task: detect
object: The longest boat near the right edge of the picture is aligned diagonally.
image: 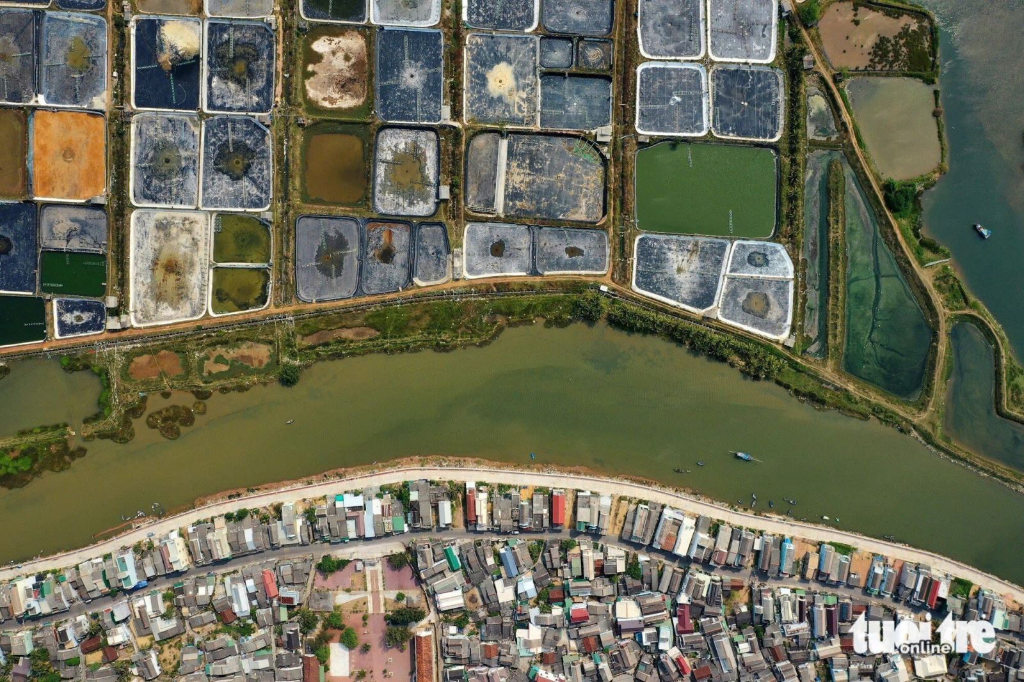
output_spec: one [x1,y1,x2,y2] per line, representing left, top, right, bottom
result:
[975,224,991,238]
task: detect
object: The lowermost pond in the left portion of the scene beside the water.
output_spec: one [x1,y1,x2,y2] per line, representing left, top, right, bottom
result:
[0,358,100,439]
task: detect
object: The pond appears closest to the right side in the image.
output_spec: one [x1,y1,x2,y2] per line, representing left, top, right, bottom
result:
[942,324,1024,474]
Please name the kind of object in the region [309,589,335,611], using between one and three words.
house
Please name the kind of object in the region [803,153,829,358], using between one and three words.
pond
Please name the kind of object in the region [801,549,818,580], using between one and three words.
house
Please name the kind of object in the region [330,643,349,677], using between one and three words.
sports court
